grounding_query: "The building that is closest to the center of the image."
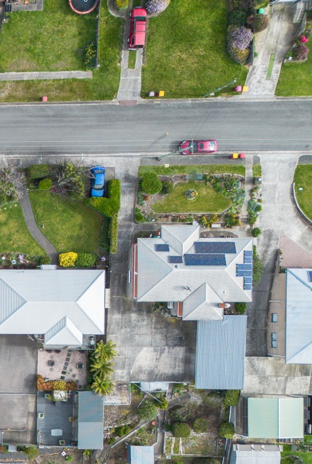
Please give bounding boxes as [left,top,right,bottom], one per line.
[129,225,254,321]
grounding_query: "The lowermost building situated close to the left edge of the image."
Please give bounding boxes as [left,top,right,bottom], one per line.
[0,264,110,346]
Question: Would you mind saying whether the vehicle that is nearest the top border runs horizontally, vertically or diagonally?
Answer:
vertically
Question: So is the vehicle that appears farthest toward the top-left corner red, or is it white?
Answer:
red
